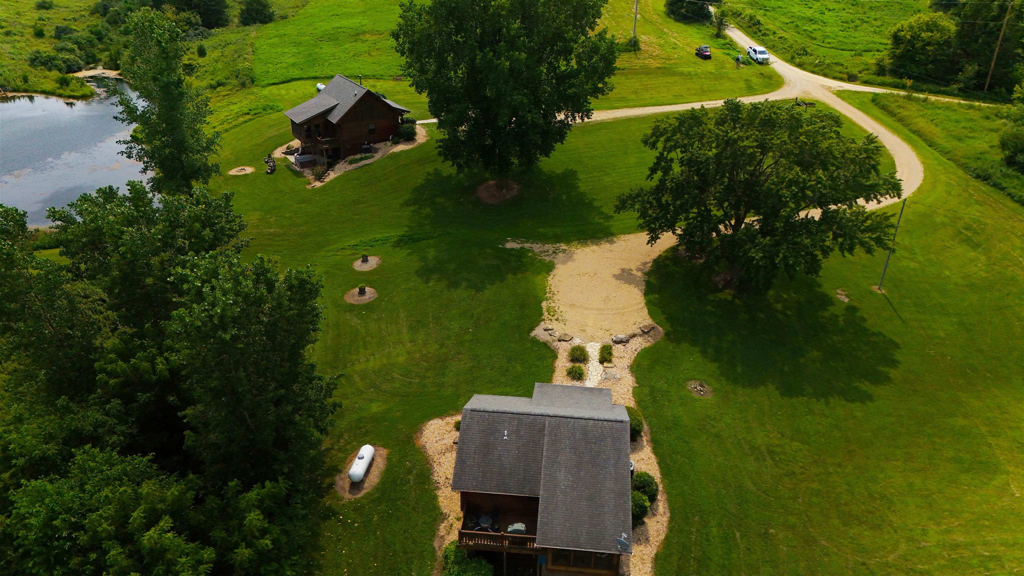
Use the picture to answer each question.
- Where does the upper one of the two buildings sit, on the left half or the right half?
left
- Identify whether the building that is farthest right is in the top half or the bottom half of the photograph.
bottom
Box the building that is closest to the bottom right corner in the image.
[455,383,632,576]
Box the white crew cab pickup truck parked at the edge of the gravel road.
[745,42,774,64]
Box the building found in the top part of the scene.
[283,72,420,169]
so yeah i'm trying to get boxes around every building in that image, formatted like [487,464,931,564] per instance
[283,72,420,169]
[455,383,632,576]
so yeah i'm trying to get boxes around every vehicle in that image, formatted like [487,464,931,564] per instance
[745,42,774,64]
[695,42,711,60]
